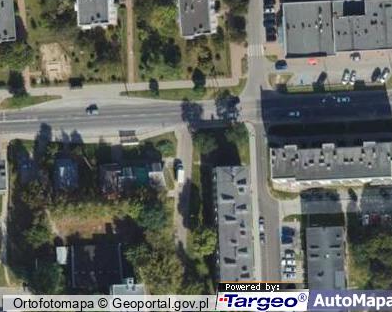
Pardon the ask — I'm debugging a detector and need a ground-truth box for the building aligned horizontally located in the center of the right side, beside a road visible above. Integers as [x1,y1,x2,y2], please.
[269,138,392,189]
